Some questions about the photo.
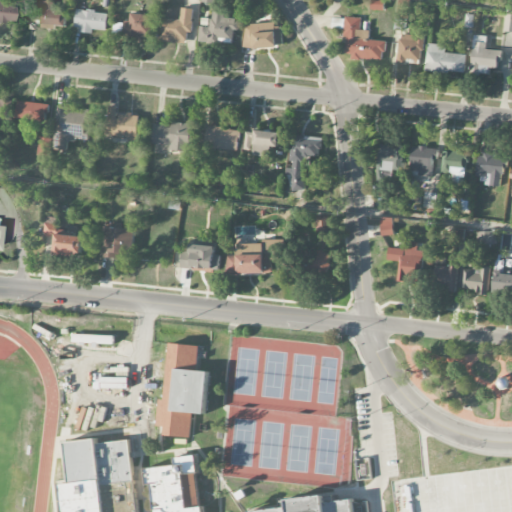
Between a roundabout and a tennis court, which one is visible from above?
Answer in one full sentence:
The image shows a tennis court.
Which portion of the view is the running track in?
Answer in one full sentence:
You can find the running track in the bottom left area of the picture.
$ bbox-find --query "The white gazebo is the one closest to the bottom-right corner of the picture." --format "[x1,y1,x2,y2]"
[494,377,509,390]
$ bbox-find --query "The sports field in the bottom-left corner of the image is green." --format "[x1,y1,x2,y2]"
[0,334,46,512]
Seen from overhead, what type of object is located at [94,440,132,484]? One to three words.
building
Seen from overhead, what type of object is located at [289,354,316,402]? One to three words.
tennis court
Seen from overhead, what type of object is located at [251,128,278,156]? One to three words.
house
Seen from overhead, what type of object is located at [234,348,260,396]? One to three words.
tennis court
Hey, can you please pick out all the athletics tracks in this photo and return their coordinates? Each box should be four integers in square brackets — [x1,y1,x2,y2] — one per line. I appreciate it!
[0,320,59,512]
